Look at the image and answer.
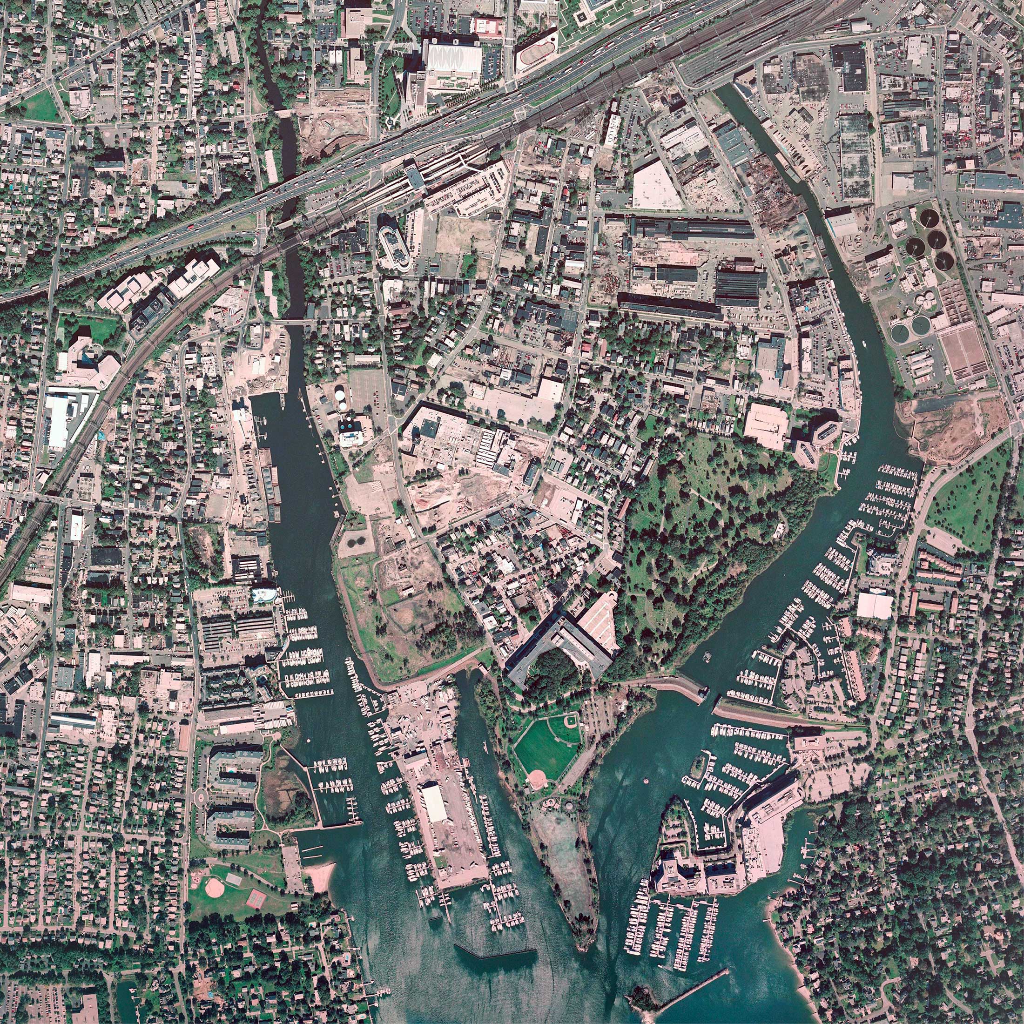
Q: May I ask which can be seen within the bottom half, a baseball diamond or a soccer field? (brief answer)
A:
baseball diamond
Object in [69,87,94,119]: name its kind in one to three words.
building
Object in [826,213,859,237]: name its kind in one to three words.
shed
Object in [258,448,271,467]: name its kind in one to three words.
ship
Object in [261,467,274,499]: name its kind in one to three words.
ship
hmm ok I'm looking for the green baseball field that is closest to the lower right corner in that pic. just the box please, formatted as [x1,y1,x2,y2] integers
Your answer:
[512,713,583,790]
